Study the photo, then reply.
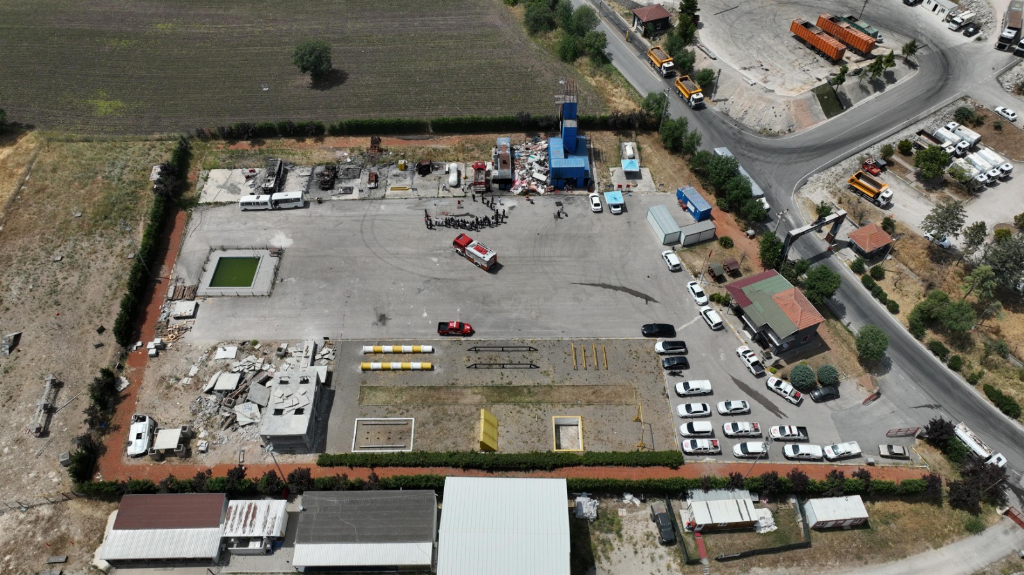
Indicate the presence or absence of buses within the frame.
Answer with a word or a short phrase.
Yes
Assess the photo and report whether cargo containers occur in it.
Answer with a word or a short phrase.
Yes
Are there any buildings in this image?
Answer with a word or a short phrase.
Yes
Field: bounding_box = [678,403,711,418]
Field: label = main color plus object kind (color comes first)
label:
white car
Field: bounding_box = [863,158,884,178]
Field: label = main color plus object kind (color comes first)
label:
red work vehicle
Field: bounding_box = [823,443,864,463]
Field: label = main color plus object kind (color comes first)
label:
white vehicle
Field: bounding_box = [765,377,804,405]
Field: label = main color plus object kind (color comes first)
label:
white truck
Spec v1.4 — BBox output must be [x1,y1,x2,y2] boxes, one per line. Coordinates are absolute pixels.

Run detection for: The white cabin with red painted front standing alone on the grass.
[805,496,868,531]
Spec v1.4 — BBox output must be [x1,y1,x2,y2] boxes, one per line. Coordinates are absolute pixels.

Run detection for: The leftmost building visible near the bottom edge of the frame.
[101,493,231,565]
